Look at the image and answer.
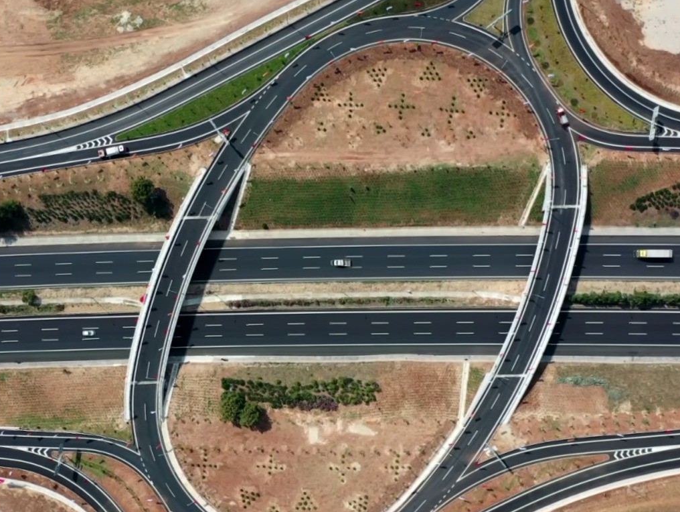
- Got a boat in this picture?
No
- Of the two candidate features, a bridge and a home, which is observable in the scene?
bridge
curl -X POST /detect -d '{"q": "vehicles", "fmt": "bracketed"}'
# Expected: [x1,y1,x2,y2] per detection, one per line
[98,146,126,158]
[632,249,673,259]
[334,260,352,266]
[554,107,568,127]
[83,330,95,336]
